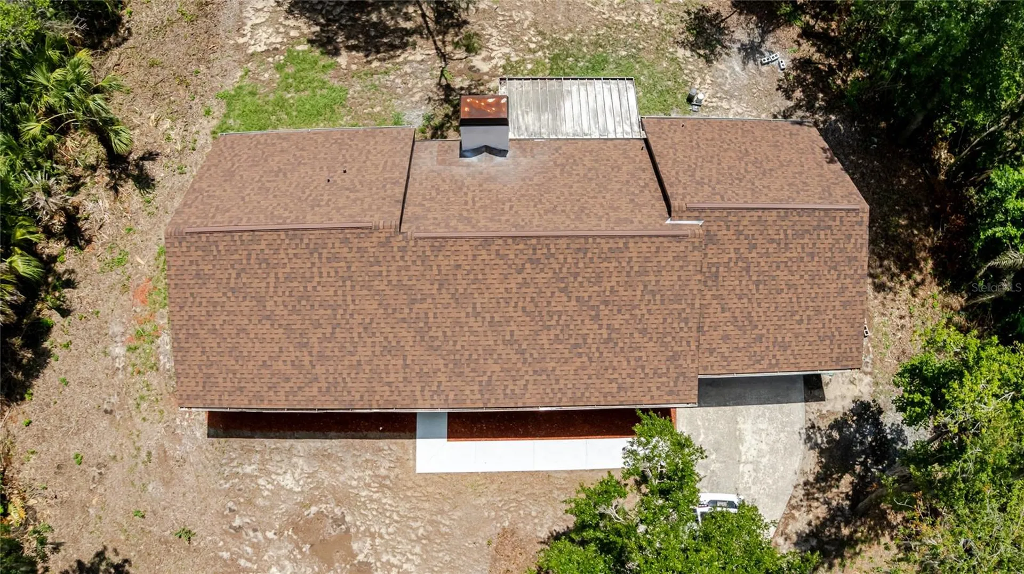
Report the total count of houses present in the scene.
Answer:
1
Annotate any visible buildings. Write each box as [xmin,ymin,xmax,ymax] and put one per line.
[166,78,869,414]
